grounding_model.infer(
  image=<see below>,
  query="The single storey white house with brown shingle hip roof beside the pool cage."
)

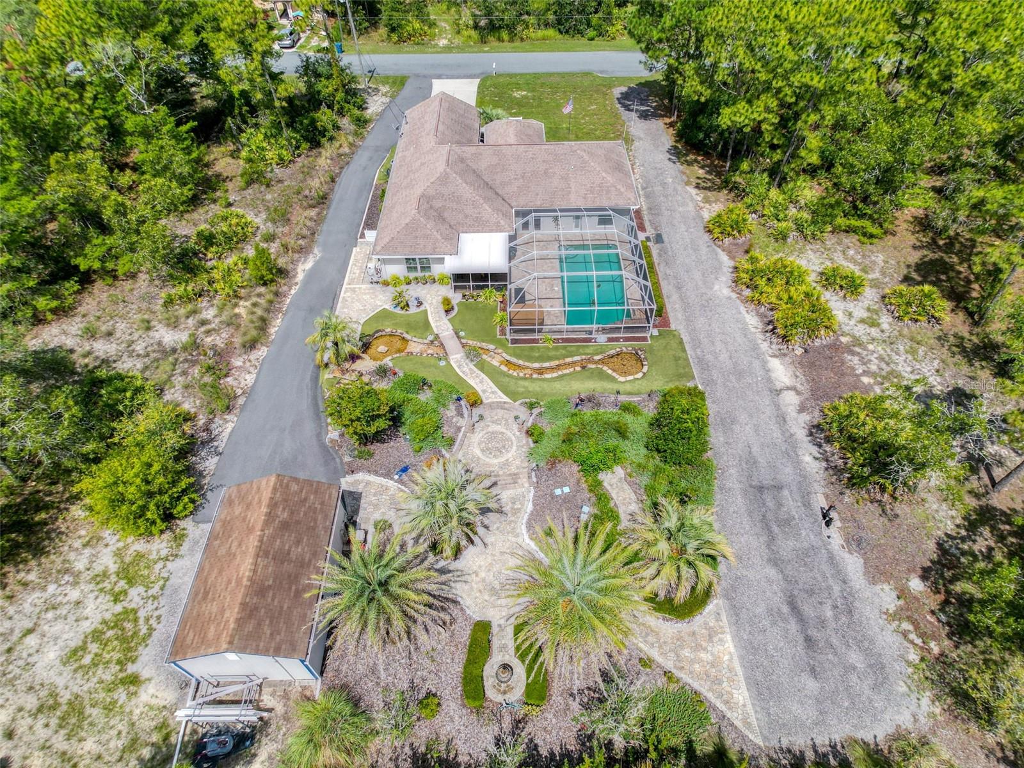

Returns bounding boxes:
[367,95,642,281]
